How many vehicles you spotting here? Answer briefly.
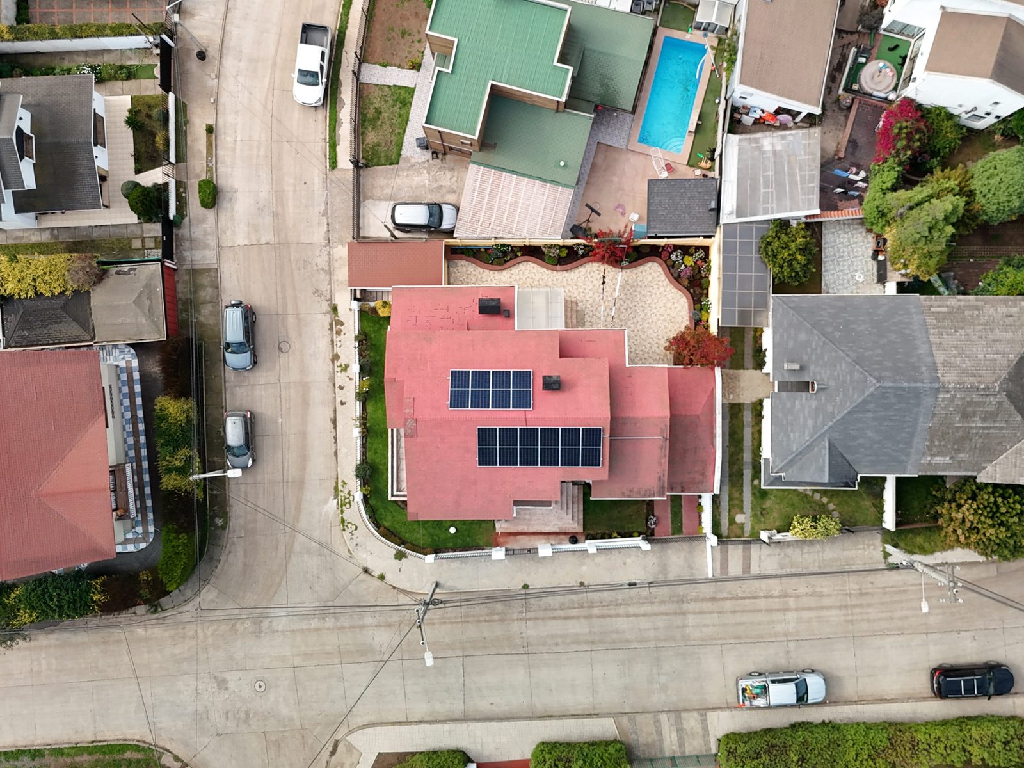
6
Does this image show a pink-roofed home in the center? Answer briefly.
Yes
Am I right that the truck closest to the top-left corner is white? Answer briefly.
Yes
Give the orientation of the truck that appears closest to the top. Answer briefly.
from top to bottom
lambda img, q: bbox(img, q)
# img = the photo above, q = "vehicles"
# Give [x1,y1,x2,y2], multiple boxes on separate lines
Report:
[734,671,826,712]
[289,19,330,105]
[219,409,255,470]
[928,661,1015,703]
[218,298,256,370]
[391,197,460,235]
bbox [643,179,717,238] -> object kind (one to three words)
shed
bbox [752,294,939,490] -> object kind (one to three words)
house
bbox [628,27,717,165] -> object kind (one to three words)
swimming pool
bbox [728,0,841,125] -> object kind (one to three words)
house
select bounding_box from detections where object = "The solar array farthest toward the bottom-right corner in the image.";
[476,427,604,467]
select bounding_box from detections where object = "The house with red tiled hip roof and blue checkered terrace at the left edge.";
[0,350,142,580]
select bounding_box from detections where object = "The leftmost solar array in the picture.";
[448,369,533,410]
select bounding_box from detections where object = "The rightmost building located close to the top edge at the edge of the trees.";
[880,0,1024,121]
